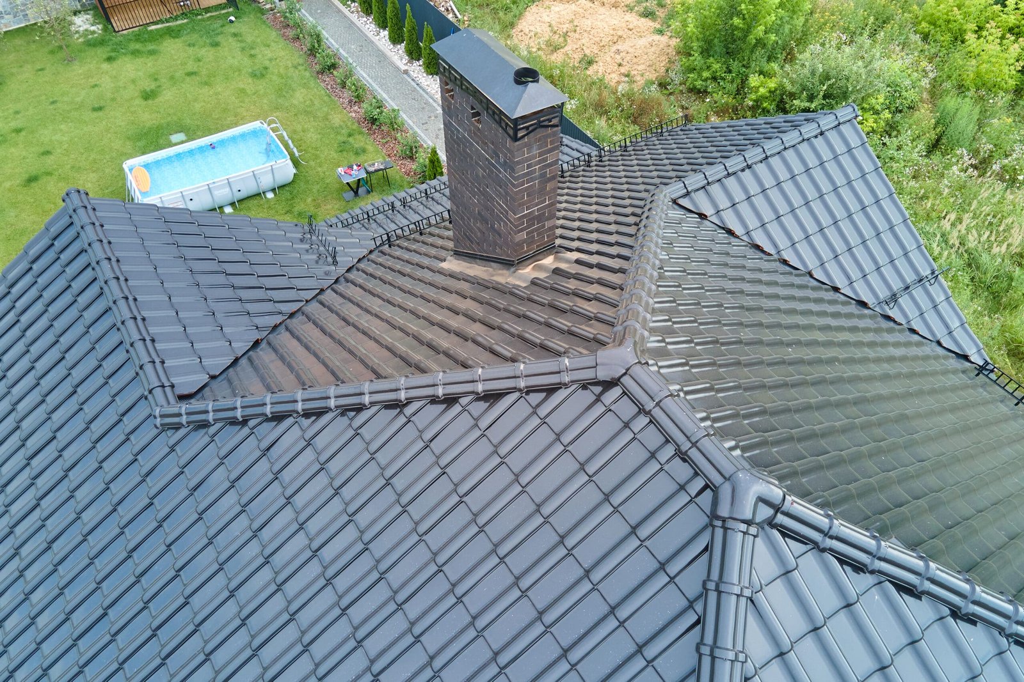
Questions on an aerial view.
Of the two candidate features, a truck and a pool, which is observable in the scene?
pool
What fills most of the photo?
buildings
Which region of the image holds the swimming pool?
top left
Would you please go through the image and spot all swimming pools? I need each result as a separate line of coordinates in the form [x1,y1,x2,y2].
[122,119,298,215]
